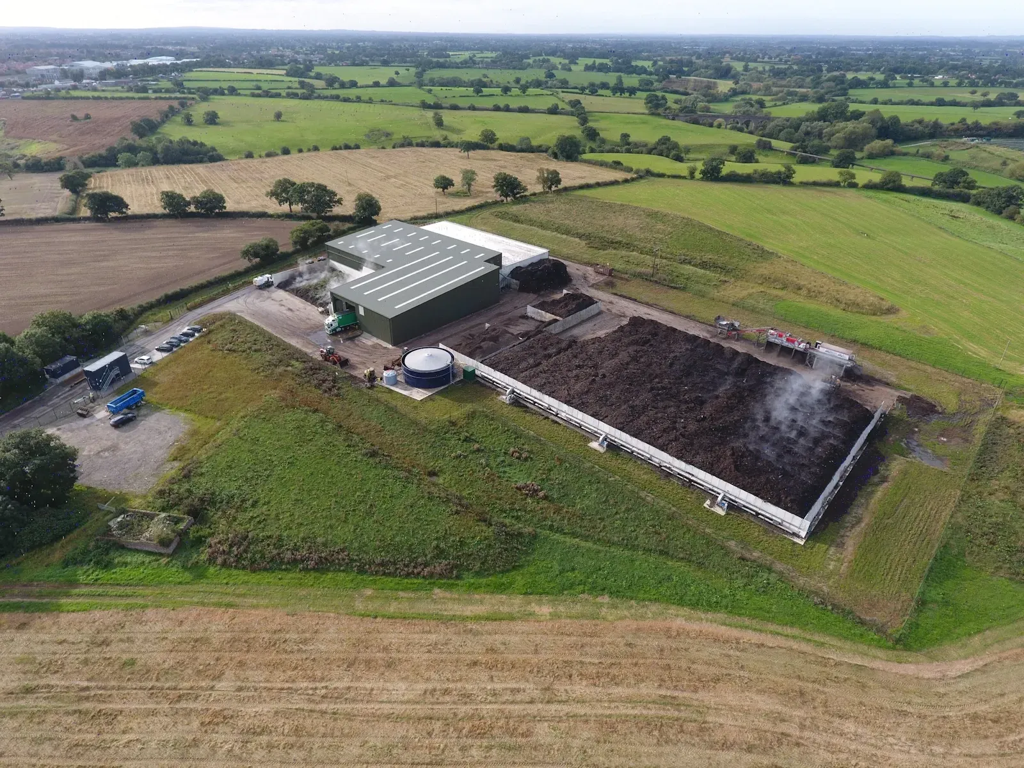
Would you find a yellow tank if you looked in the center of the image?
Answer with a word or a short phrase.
No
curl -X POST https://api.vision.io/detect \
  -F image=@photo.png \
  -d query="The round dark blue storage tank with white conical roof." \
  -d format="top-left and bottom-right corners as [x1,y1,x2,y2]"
[401,347,453,388]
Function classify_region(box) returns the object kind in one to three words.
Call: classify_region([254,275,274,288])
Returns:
vehicle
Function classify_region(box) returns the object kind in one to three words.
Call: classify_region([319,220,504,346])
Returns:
shed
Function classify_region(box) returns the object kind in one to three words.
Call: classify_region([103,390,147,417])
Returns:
trailer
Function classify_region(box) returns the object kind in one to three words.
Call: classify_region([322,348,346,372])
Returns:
work vehicle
